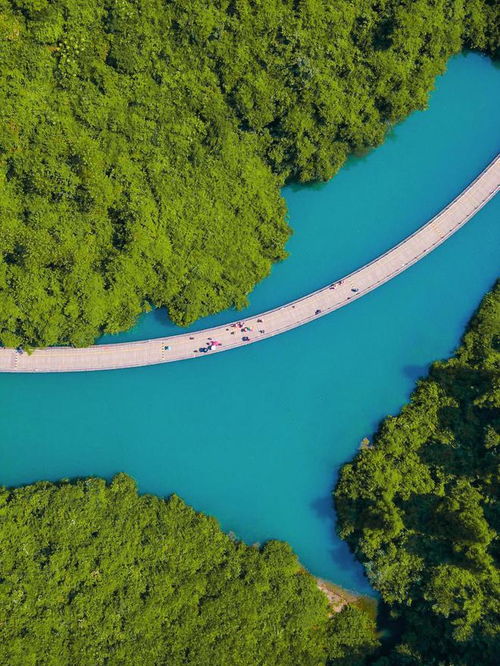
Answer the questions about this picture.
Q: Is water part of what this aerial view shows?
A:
Yes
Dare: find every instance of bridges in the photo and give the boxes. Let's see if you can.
[0,152,500,374]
